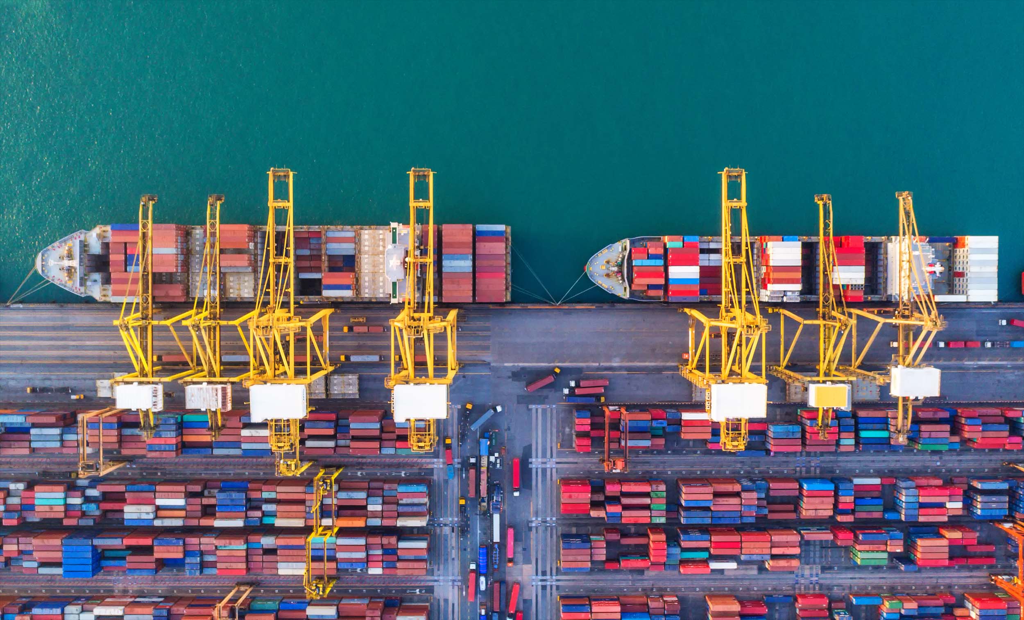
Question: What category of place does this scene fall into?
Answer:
port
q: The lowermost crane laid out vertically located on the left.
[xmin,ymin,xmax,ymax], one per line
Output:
[305,525,337,599]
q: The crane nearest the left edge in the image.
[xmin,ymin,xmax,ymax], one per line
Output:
[79,406,122,479]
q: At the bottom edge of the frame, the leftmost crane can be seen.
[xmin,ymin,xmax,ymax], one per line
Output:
[217,583,253,620]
